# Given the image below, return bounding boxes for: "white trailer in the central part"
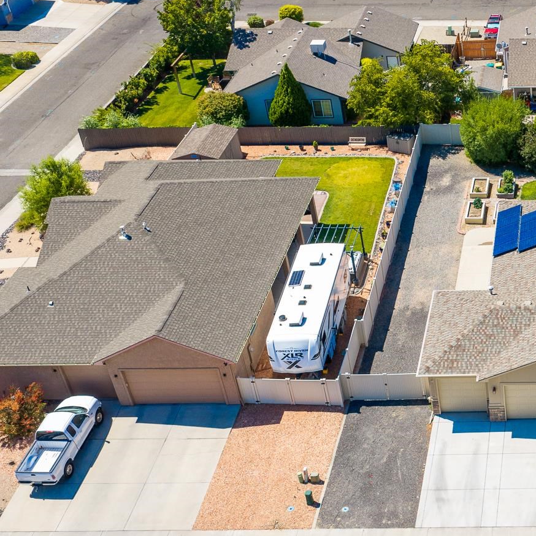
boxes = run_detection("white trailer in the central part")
[266,245,351,376]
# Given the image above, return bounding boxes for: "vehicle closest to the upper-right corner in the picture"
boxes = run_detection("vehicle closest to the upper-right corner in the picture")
[482,5,505,36]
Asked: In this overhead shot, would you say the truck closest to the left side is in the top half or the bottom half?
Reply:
bottom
